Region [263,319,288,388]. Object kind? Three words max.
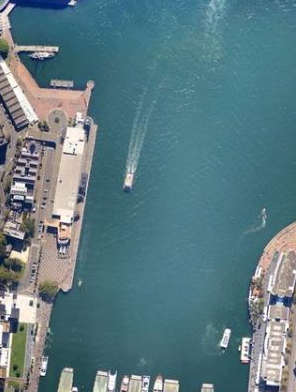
building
